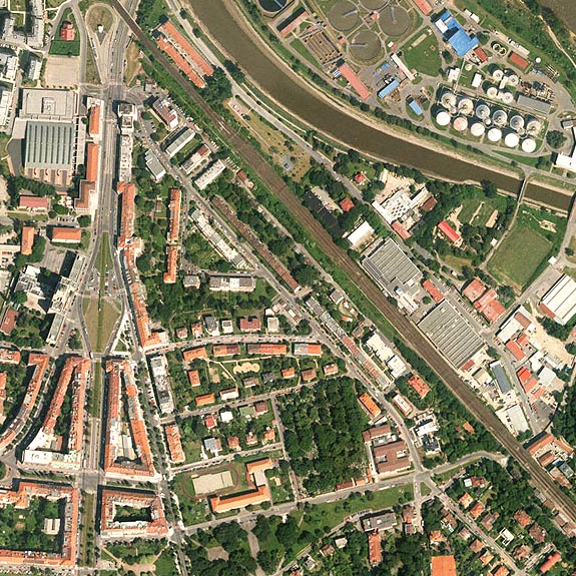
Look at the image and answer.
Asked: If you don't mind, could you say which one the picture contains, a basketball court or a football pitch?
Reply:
football pitch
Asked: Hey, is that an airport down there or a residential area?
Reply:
residential area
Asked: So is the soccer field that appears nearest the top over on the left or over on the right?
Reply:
right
